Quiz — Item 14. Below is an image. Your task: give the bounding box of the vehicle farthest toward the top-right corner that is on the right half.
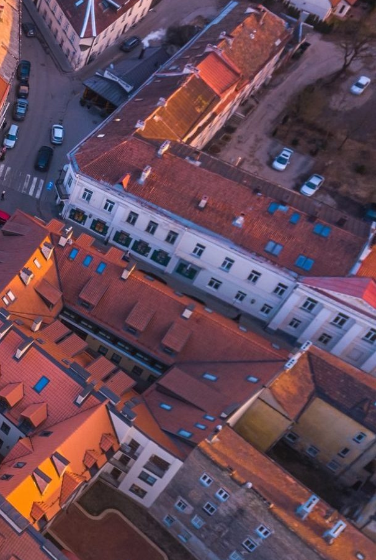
[350,76,369,94]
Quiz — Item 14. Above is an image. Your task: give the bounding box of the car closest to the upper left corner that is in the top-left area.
[21,21,36,38]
